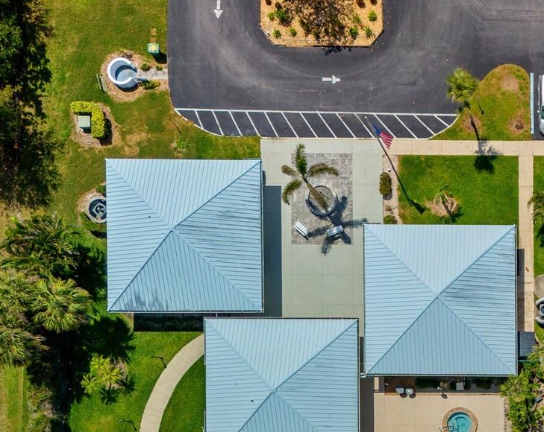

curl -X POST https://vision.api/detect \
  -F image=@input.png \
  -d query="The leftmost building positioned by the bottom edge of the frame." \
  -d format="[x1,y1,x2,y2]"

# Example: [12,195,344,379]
[203,316,362,432]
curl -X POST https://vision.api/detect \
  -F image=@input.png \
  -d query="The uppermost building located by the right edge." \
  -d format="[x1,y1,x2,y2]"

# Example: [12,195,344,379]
[361,224,520,378]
